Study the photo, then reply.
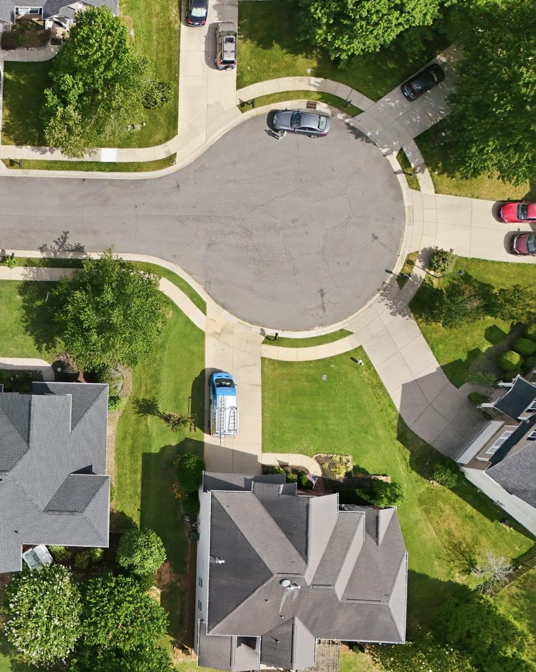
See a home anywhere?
Yes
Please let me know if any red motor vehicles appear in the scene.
Yes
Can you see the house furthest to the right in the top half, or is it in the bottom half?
bottom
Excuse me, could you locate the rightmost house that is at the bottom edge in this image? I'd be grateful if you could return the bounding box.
[192,471,408,671]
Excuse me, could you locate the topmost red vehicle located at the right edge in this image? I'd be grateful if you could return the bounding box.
[495,200,536,224]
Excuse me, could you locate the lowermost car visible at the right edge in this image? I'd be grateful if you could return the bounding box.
[507,232,536,257]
